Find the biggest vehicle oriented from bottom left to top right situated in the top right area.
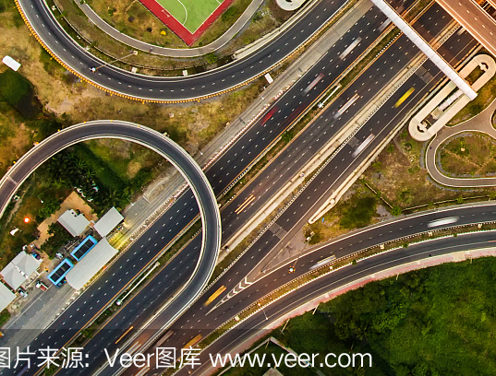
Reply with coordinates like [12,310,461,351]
[392,85,416,109]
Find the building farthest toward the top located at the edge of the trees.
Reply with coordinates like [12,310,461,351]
[58,207,94,237]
